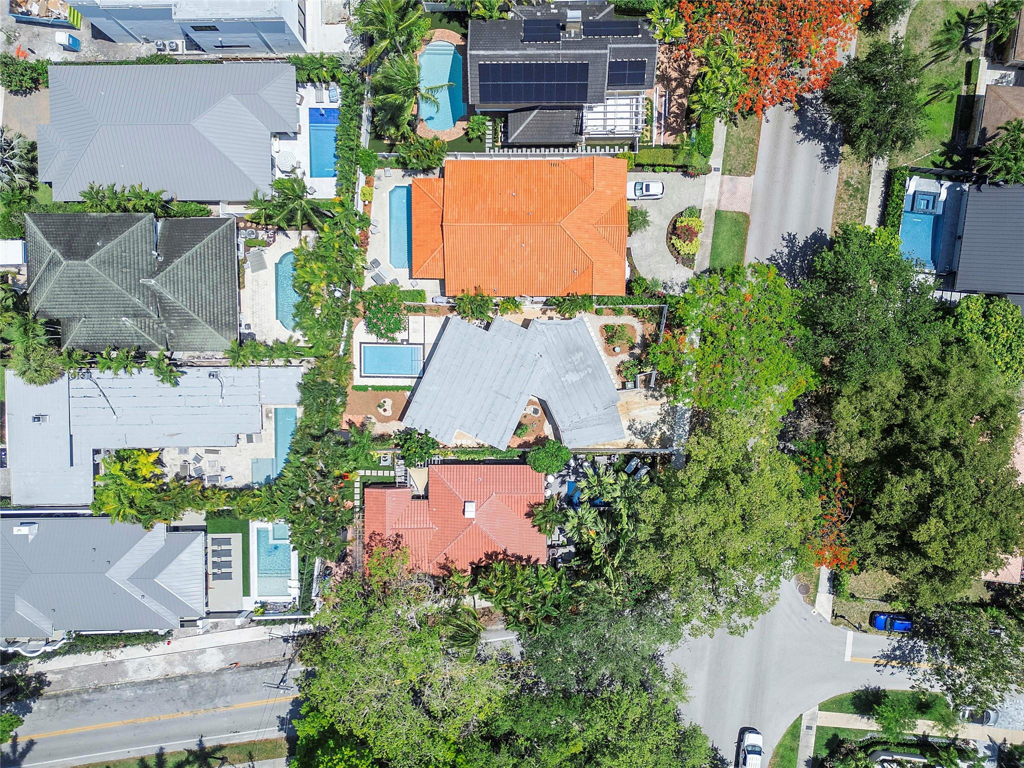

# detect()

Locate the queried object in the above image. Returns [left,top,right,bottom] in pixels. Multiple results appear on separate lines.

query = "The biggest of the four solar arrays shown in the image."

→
[479,61,589,102]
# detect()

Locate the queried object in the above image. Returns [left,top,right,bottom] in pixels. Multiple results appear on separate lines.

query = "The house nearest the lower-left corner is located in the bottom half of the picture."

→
[0,517,215,638]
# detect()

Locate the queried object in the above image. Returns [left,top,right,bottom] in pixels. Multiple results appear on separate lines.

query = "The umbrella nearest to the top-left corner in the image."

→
[278,153,297,172]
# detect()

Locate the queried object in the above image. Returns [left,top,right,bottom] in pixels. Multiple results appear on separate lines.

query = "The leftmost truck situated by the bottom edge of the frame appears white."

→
[740,727,763,768]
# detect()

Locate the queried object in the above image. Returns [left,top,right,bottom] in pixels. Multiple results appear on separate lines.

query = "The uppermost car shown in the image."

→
[627,180,664,200]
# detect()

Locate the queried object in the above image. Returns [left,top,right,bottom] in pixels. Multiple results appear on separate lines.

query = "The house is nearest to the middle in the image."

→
[402,316,625,451]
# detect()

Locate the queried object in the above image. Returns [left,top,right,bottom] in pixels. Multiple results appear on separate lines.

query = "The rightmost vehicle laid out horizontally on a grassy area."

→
[871,612,914,633]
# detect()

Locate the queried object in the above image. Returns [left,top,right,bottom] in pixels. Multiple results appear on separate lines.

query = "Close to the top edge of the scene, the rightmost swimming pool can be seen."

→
[416,38,469,132]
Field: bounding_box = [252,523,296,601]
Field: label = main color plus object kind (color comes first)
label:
white swimming pool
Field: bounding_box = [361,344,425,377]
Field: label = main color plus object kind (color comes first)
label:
blue swimming pool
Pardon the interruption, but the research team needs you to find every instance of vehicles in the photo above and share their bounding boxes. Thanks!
[955,706,998,728]
[627,180,664,200]
[740,727,763,768]
[871,612,914,633]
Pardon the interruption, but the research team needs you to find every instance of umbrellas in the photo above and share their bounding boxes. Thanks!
[247,251,269,273]
[278,153,297,172]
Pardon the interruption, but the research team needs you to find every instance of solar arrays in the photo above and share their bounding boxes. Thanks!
[583,21,639,37]
[524,19,560,43]
[609,59,646,85]
[479,61,589,102]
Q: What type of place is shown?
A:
residential area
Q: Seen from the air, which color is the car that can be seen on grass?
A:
blue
